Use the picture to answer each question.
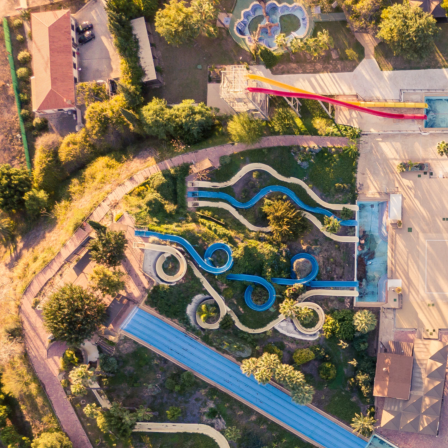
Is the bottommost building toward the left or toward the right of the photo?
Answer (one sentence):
The bottommost building sits on the right side.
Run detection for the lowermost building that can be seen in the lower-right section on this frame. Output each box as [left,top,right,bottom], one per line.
[373,353,413,399]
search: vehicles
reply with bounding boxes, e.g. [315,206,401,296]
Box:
[79,21,94,33]
[80,31,95,45]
